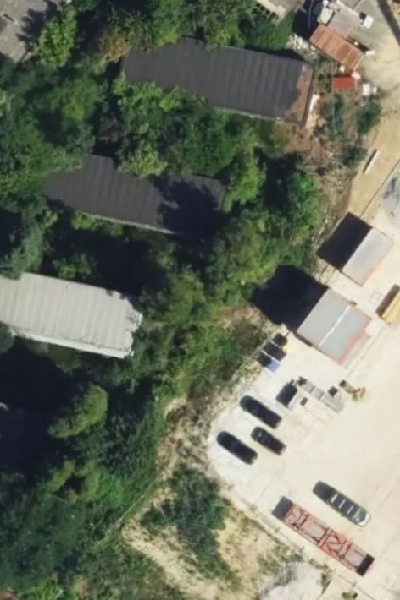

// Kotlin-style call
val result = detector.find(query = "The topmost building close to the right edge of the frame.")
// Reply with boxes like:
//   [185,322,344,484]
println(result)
[342,228,393,286]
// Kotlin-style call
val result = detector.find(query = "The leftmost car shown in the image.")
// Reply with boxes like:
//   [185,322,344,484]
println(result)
[219,432,258,465]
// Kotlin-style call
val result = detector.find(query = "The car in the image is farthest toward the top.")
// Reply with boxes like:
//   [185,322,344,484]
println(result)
[243,397,283,429]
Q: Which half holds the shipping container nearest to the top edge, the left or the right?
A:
right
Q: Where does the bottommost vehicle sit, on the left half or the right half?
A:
right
